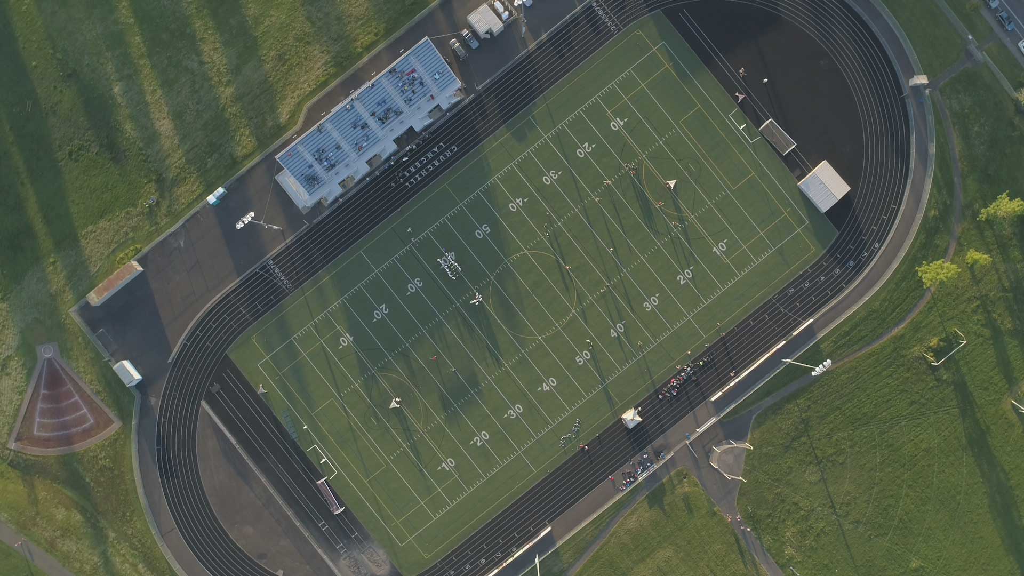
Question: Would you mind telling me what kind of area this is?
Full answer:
The area seen from above is a sports ground.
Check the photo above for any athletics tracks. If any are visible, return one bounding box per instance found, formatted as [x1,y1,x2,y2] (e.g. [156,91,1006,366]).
[155,0,909,576]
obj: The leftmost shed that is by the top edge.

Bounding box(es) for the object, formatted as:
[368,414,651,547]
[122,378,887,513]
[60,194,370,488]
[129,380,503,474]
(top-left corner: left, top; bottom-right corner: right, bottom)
[468,4,505,43]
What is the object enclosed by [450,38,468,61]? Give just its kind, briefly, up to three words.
car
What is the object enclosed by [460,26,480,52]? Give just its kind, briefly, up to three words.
vehicle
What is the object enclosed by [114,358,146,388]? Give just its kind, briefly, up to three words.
shed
